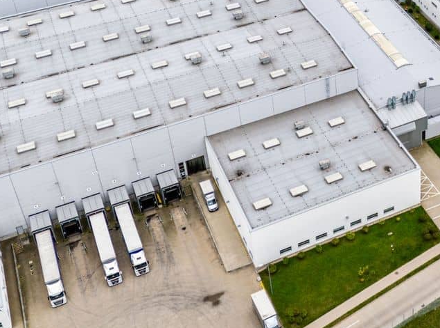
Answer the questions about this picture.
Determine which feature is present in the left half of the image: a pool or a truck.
truck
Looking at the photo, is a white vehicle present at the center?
Yes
